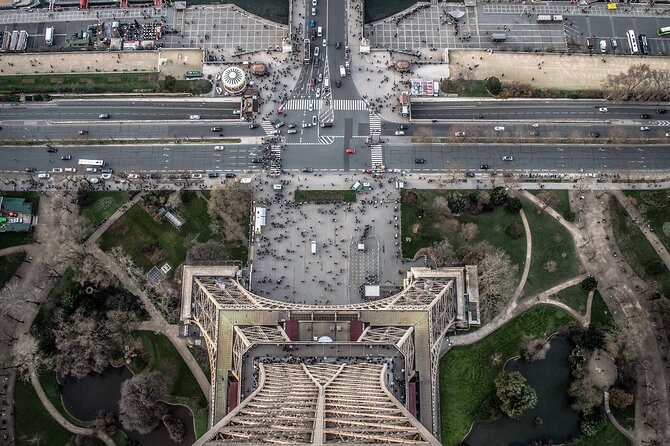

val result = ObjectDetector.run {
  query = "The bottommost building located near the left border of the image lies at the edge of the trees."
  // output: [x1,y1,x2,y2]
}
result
[0,198,38,234]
